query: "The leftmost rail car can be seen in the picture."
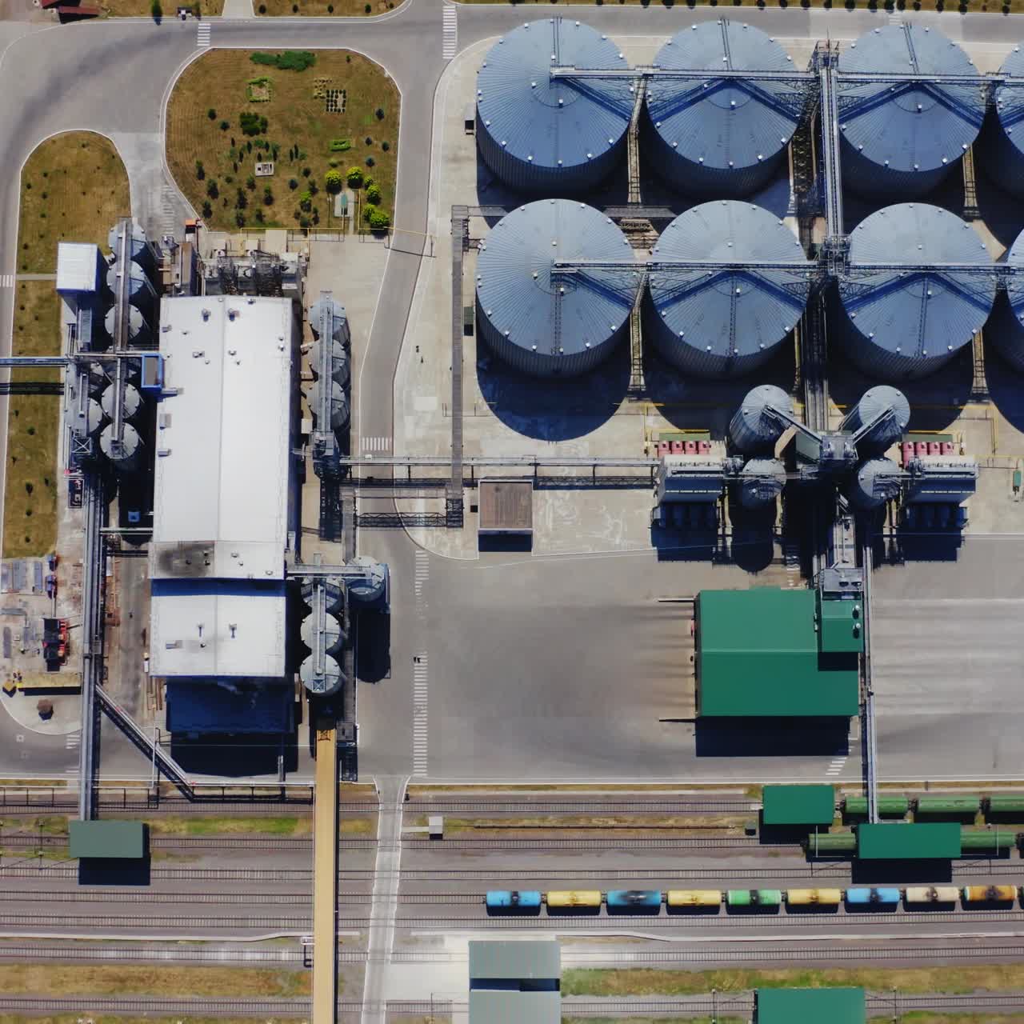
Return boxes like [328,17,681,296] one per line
[483,891,544,907]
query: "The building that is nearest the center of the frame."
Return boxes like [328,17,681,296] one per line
[478,480,533,534]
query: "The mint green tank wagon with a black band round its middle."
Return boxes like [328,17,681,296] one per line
[722,889,783,905]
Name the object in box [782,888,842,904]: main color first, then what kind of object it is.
yellow rail car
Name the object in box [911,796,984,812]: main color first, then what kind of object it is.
green rail car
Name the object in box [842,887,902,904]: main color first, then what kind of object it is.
blue rail car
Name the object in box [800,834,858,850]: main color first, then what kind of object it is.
green rail car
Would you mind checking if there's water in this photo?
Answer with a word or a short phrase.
No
